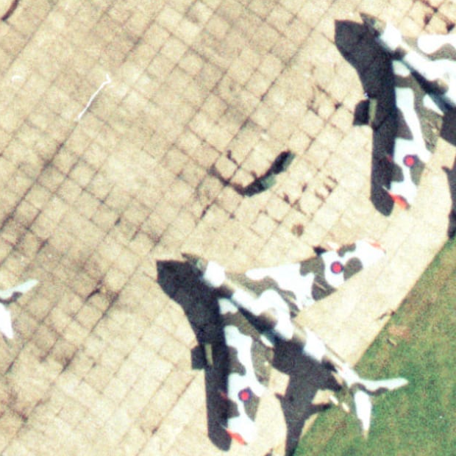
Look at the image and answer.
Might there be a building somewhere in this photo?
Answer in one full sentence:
No, no building is visible in the view.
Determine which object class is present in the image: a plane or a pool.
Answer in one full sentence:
This aerial view contains a plane.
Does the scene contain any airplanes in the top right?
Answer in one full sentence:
Yes, an airplane shows up in the top right.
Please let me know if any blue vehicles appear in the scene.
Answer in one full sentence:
No, there is no blue vehicle in the image.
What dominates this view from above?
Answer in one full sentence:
The bulk of the photo consists of paved ground.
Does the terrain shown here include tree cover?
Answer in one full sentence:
No, there is no tree cover in the image.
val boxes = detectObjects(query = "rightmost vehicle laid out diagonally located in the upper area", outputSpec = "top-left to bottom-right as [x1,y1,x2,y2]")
[277,148,299,176]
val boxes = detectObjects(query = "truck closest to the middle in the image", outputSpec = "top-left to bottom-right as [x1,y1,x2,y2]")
[254,171,281,193]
